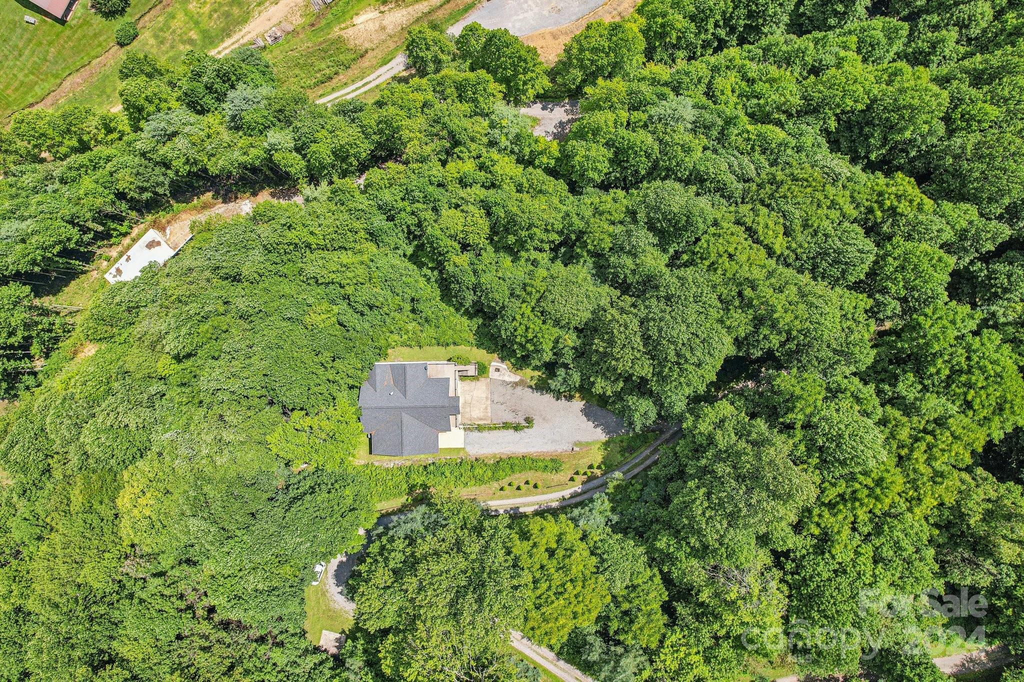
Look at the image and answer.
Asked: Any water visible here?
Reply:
No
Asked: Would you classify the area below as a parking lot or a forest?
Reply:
forest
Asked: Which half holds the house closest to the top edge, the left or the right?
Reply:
left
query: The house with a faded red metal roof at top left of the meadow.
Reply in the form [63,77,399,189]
[30,0,92,29]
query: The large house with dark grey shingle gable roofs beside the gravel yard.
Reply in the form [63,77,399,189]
[359,363,477,457]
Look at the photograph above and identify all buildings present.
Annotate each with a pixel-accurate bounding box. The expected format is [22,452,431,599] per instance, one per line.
[30,0,92,29]
[104,228,180,293]
[359,363,477,457]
